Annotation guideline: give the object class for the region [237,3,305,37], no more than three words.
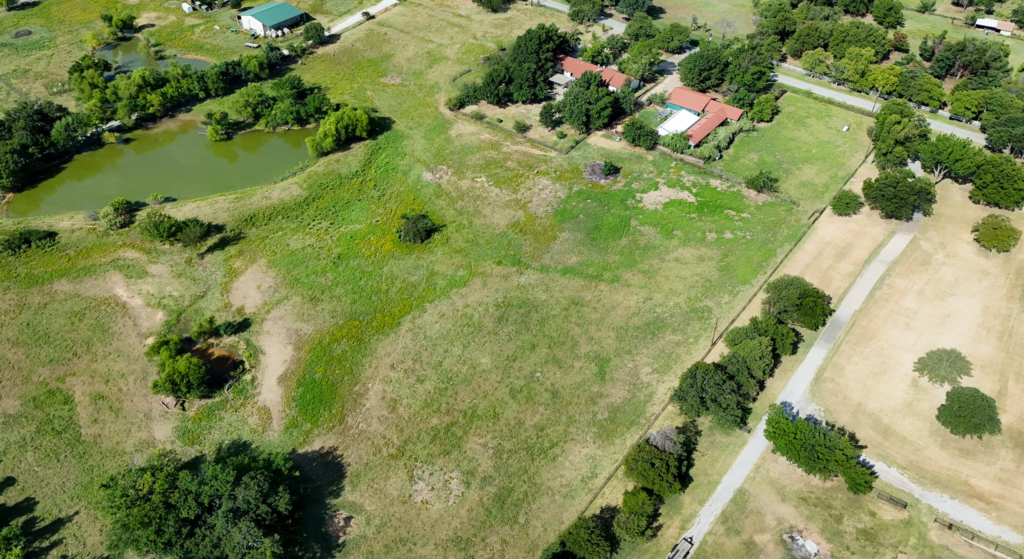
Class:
barn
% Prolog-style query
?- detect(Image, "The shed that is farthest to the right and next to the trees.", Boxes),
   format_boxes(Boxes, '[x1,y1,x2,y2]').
[976,16,1018,37]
